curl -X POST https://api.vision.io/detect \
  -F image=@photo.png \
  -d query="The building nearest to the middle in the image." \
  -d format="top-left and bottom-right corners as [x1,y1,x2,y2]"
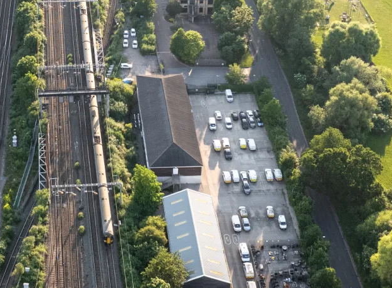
[135,72,204,186]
